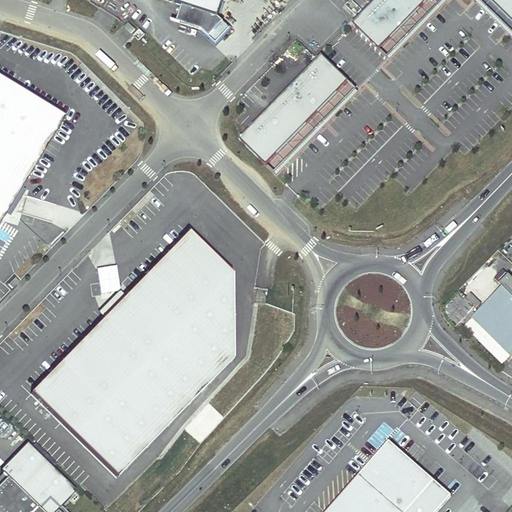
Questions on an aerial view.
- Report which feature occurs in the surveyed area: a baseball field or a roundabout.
roundabout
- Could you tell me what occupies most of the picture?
paved ground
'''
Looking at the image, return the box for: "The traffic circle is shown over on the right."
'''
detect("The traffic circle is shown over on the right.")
[285,244,466,384]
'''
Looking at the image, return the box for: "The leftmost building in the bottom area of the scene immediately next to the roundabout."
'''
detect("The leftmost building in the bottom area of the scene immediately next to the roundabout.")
[34,229,236,476]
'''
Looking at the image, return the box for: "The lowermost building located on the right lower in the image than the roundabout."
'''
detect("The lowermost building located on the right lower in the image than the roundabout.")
[323,439,452,512]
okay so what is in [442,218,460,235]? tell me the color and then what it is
white vehicle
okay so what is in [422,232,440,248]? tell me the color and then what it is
white vehicle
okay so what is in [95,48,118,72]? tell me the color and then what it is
white truck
